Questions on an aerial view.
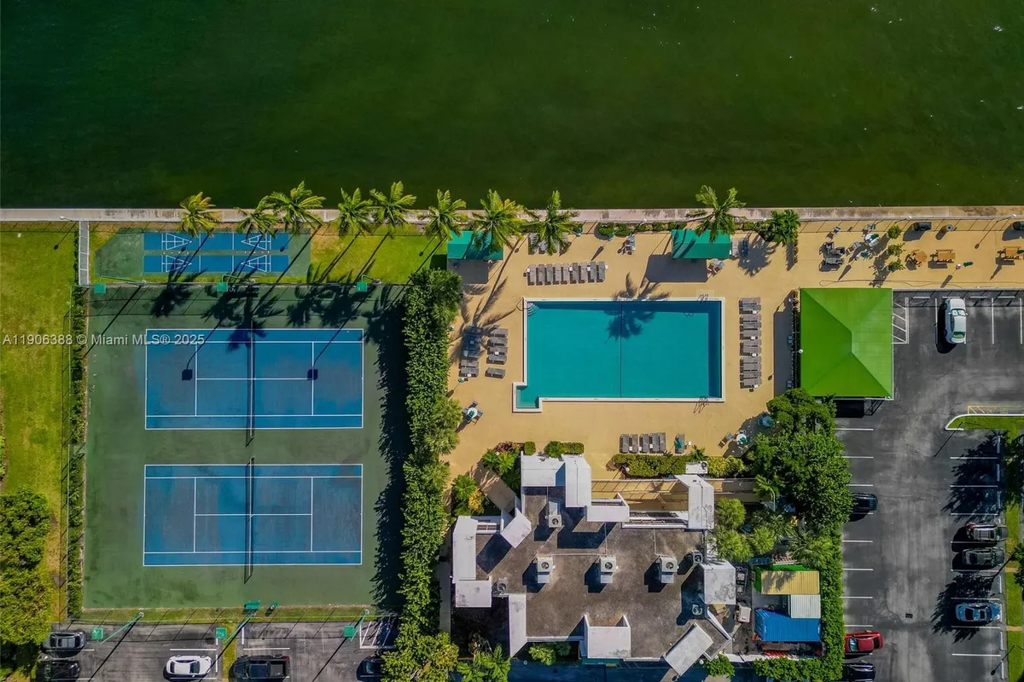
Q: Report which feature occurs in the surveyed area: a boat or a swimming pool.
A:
swimming pool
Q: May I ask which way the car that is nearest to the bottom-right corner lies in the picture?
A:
from left to right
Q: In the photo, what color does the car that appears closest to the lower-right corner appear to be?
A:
blue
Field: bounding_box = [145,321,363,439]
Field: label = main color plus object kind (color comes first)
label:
blue tennis court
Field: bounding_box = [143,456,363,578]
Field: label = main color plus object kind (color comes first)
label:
blue tennis court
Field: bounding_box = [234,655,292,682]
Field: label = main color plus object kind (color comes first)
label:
black truck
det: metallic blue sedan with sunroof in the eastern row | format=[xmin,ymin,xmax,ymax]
[953,601,999,623]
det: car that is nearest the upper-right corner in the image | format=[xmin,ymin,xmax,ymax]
[942,298,966,343]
